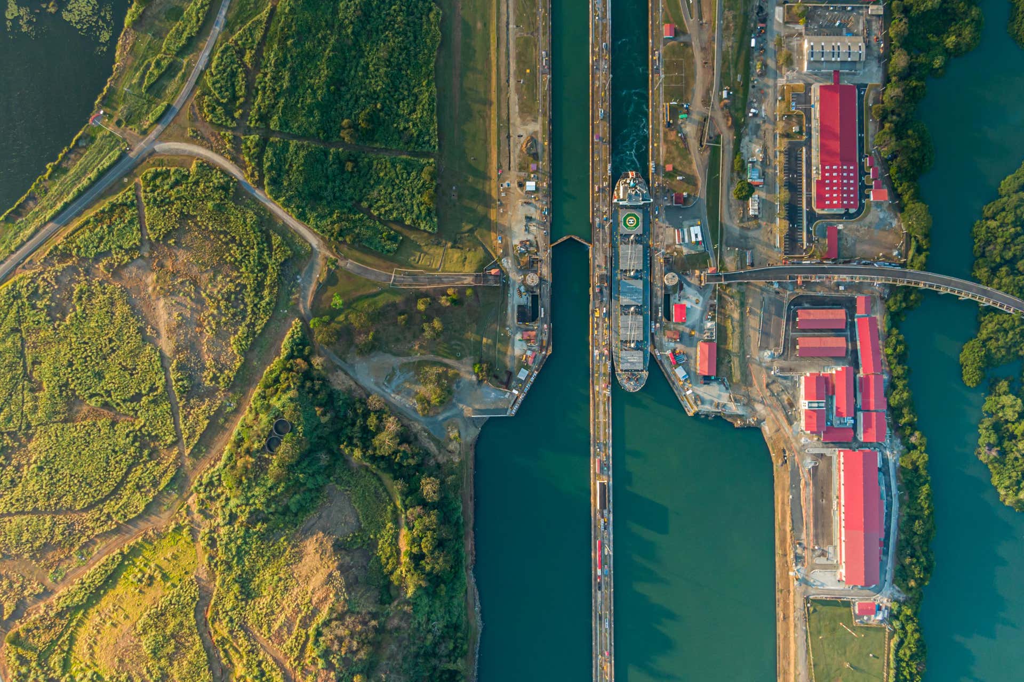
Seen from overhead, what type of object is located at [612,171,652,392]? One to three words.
ship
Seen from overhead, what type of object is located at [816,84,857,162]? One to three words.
building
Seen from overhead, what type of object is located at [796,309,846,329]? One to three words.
shed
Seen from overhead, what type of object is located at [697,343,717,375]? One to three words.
building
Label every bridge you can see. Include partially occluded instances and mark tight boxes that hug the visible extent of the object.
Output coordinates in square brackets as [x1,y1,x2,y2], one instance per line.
[705,265,1024,325]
